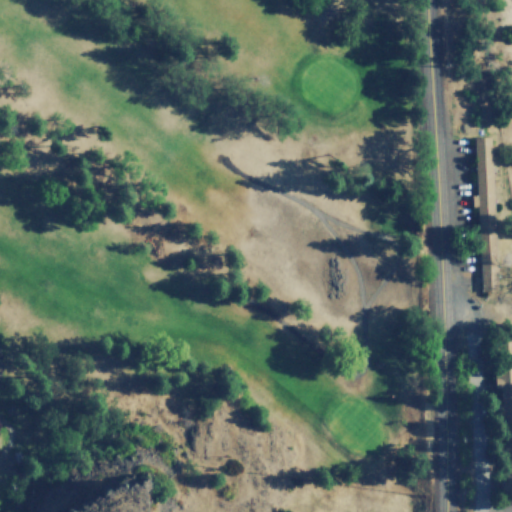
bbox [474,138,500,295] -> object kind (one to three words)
building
